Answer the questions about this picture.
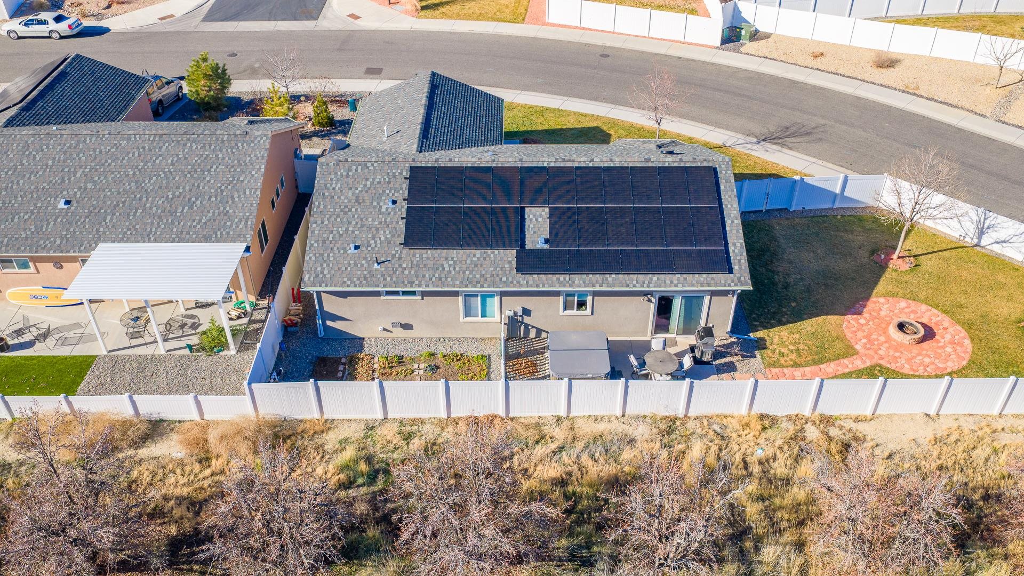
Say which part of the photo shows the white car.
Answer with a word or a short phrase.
top left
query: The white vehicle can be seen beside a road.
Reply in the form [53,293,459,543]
[0,9,83,39]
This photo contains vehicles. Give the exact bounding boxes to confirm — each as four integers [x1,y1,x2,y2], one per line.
[134,70,186,119]
[0,9,83,39]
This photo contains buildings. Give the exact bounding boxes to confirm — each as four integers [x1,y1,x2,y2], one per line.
[300,73,757,341]
[0,57,306,300]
